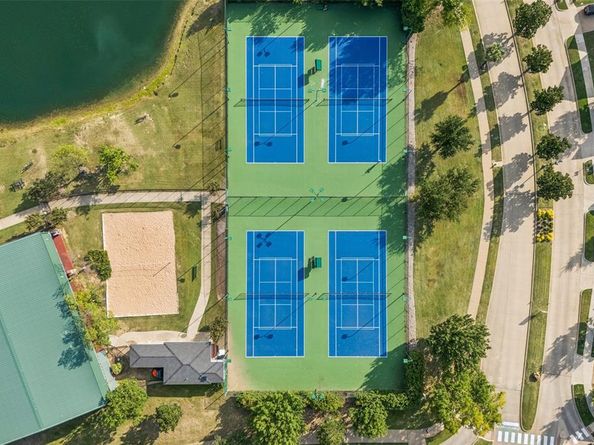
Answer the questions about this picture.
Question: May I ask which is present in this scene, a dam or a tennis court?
tennis court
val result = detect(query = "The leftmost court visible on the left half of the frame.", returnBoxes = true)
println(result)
[102,211,178,317]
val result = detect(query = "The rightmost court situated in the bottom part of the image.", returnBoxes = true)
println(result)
[328,230,387,357]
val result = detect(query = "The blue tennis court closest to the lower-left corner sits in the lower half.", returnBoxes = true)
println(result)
[246,230,305,357]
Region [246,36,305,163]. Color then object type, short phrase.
blue tennis court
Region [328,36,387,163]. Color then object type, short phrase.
blue tennis court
